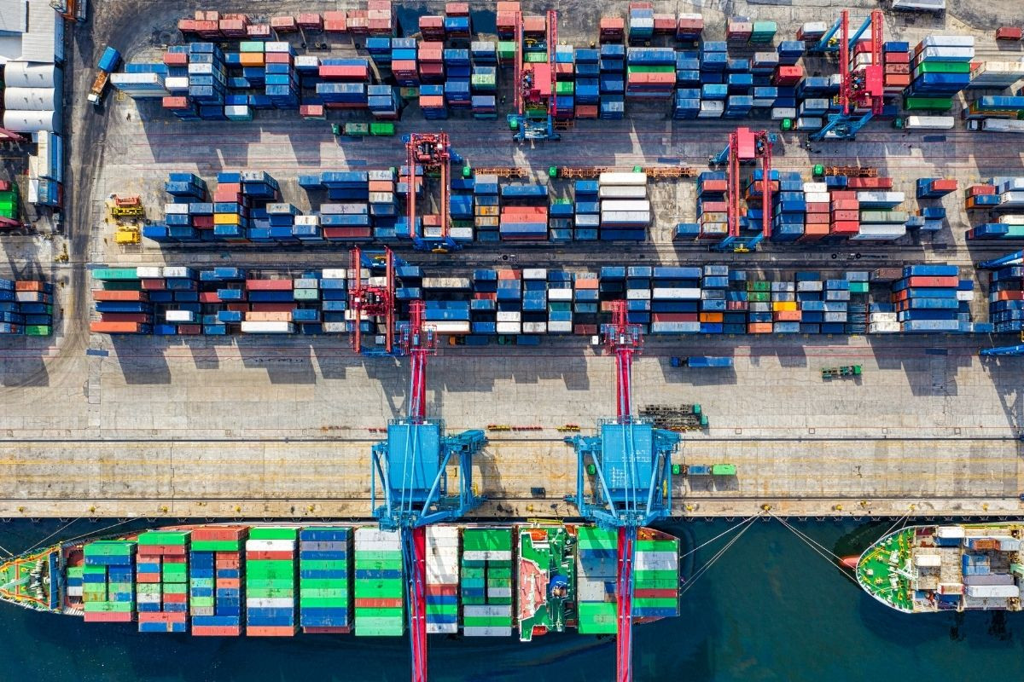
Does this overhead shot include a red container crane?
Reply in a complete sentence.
Yes, I can see a red container crane in this picture.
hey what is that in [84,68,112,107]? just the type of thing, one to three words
truck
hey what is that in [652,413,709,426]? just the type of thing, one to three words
vehicle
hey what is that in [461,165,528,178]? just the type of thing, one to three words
vehicle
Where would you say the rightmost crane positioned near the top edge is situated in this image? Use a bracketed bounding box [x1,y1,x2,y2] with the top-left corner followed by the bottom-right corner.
[810,7,883,138]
